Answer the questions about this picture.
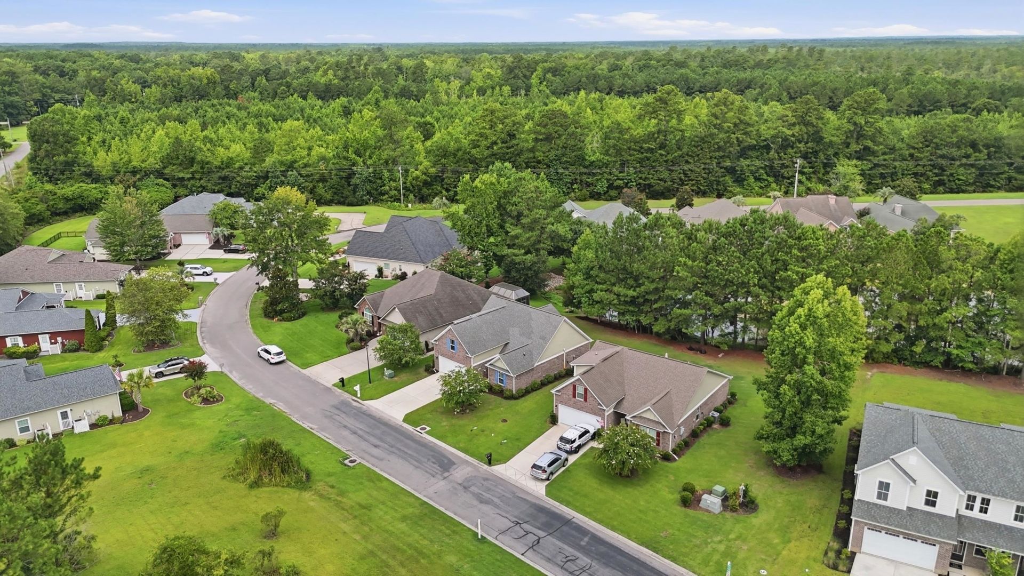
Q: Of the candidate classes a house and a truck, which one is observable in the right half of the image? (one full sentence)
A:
You can see a house in the right half of the image.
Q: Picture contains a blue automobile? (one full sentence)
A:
No, there is no blue automobile in the image.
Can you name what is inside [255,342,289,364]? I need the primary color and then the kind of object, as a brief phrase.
white car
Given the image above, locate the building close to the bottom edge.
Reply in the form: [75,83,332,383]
[847,403,1024,576]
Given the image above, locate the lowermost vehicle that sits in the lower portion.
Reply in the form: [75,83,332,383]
[525,447,571,480]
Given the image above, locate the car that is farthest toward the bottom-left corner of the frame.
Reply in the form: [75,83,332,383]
[145,351,189,377]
